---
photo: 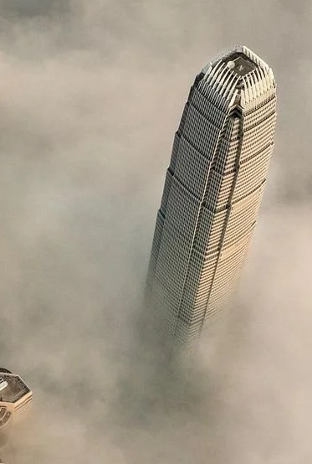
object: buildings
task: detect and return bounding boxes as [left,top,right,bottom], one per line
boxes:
[129,43,284,460]
[0,362,32,464]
